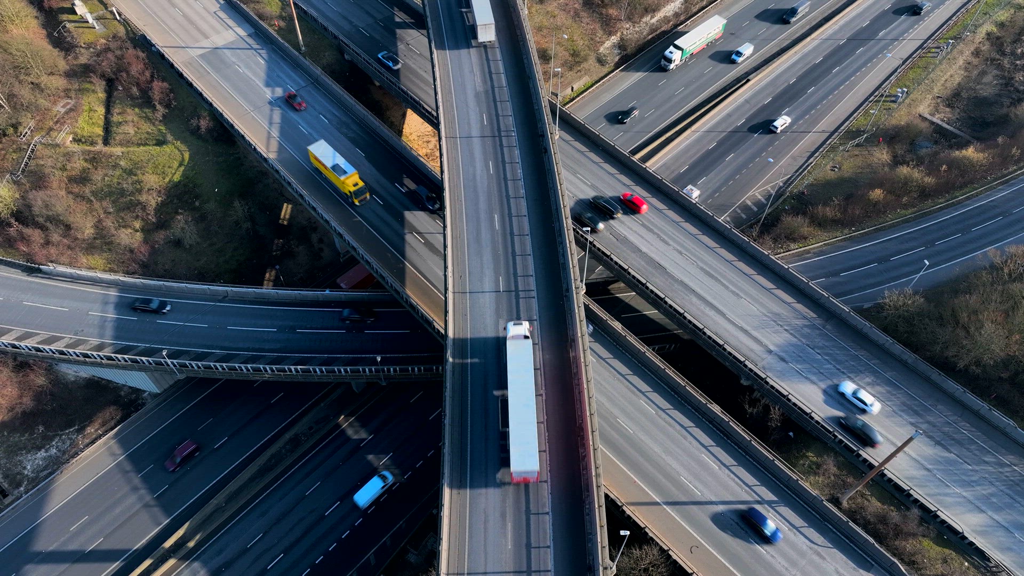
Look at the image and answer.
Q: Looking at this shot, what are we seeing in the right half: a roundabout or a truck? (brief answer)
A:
truck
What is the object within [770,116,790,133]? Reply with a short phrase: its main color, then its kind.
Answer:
white car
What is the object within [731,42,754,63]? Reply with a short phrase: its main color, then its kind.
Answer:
white vehicle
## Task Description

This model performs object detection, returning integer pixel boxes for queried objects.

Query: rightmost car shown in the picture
[912,2,929,15]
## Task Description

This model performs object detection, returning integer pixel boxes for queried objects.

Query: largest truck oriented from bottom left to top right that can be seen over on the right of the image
[658,17,722,74]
